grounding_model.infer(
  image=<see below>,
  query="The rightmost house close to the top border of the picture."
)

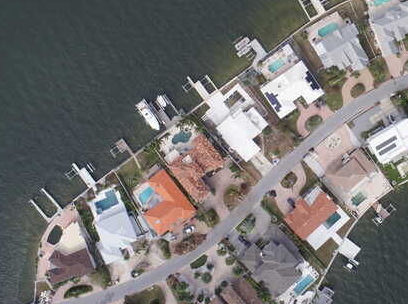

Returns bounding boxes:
[372,2,408,58]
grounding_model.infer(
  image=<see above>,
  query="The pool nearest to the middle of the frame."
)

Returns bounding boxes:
[171,130,193,144]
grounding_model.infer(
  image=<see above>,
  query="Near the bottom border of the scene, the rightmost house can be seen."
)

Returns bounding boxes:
[241,232,310,295]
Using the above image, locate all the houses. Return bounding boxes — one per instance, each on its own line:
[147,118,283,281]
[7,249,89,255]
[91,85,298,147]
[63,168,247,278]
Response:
[261,62,324,119]
[48,221,96,284]
[316,23,368,77]
[201,92,268,162]
[324,148,380,203]
[145,170,196,235]
[372,2,408,58]
[212,276,266,304]
[166,134,224,203]
[285,187,339,241]
[241,232,310,295]
[368,118,408,166]
[90,202,137,265]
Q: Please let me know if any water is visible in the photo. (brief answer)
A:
Yes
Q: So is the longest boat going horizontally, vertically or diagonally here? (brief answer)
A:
diagonally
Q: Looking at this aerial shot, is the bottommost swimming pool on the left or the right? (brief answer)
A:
right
